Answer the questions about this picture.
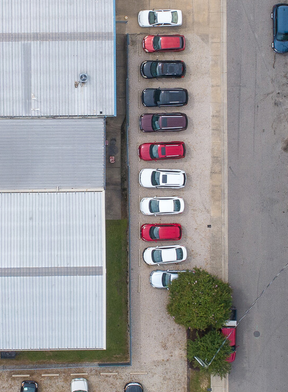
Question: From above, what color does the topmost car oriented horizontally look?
white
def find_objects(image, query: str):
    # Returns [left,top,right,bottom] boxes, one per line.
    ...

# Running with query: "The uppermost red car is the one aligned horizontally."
[142,34,185,53]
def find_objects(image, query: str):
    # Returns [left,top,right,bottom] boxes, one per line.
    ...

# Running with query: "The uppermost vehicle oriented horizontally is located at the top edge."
[138,7,183,27]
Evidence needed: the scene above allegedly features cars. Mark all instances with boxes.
[140,111,187,132]
[141,86,188,107]
[20,380,39,392]
[140,197,184,216]
[140,223,182,243]
[142,34,185,53]
[70,376,88,392]
[138,7,183,27]
[270,3,288,53]
[138,141,186,161]
[140,59,186,79]
[124,381,144,392]
[149,270,193,291]
[143,245,187,266]
[139,168,186,189]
